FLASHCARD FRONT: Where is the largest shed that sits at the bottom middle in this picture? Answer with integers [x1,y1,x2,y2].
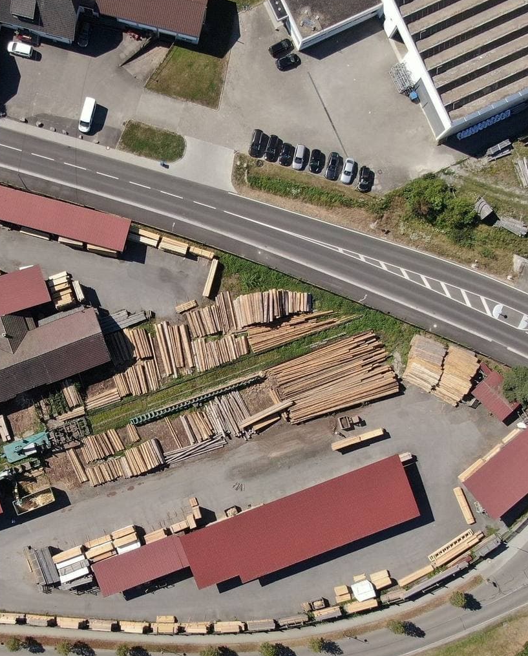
[178,454,420,589]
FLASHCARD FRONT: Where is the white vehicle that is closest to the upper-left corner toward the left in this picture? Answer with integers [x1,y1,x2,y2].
[8,42,34,58]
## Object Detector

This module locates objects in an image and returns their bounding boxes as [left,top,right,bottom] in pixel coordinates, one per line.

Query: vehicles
[340,158,355,186]
[324,152,341,182]
[292,143,308,172]
[275,55,301,73]
[265,135,280,164]
[79,97,97,134]
[250,130,266,159]
[267,40,293,60]
[355,166,371,193]
[18,34,30,43]
[279,143,294,168]
[307,149,322,176]
[8,42,34,58]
